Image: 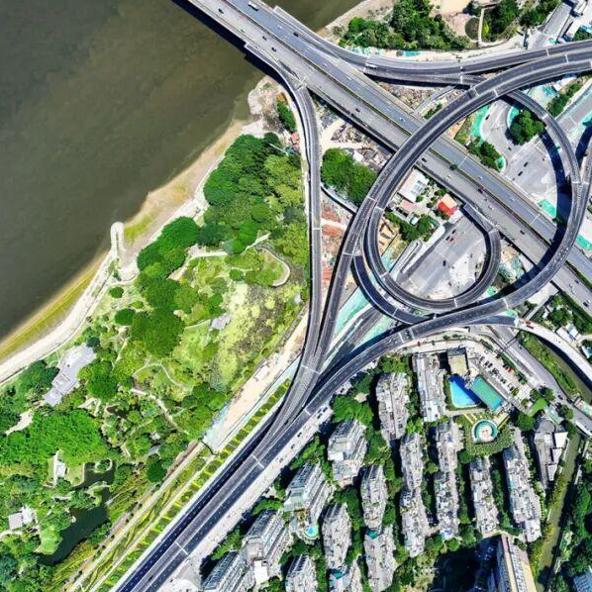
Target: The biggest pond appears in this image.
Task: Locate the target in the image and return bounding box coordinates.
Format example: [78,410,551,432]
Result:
[37,459,116,564]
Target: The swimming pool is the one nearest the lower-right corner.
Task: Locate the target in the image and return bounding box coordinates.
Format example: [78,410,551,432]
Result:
[472,419,498,444]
